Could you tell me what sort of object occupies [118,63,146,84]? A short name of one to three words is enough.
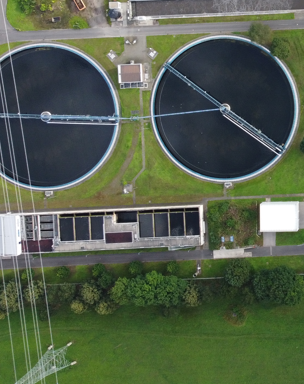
building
